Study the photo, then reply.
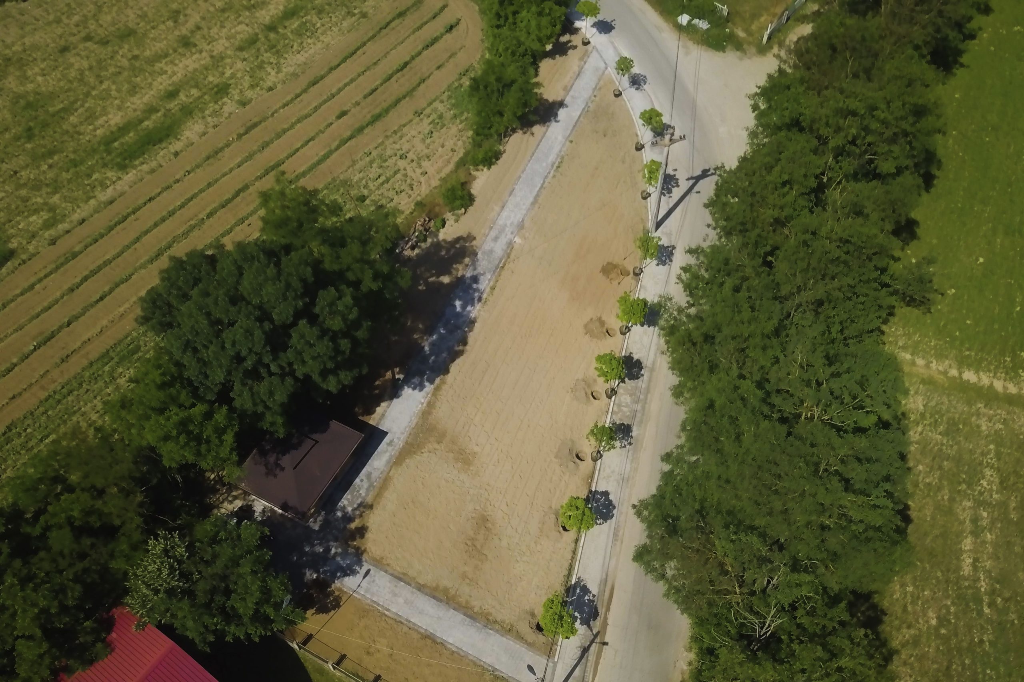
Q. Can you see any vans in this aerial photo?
No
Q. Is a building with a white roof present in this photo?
No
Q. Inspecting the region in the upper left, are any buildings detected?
No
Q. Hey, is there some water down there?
No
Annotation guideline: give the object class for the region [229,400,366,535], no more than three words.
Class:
building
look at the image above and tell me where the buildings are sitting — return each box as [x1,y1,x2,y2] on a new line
[229,400,366,535]
[51,610,220,682]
